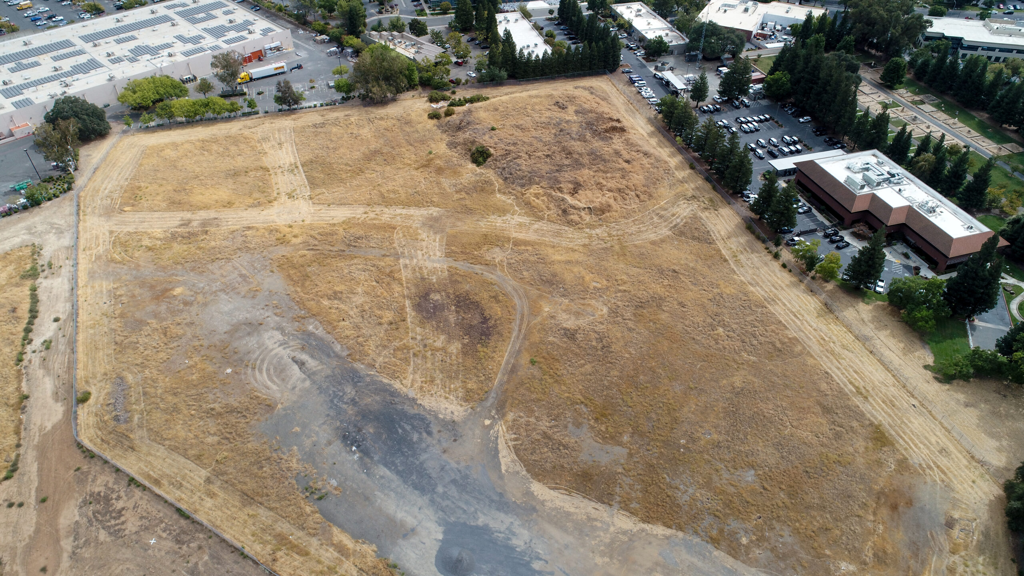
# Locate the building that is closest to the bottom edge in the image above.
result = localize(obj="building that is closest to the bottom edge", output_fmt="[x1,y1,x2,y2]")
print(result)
[794,149,1006,268]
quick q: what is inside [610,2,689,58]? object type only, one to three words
building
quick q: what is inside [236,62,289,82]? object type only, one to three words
vehicle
